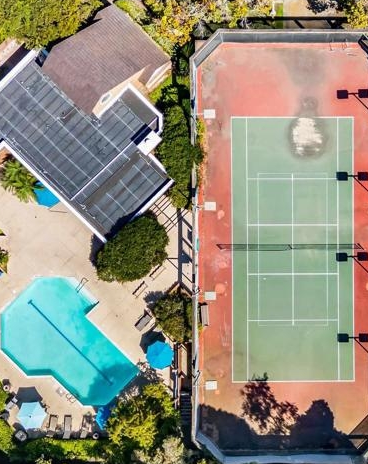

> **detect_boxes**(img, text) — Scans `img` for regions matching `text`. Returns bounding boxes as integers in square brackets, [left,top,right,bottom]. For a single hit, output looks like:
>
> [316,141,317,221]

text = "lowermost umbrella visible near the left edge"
[18,400,49,428]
